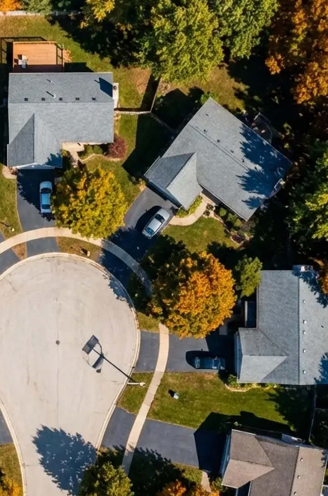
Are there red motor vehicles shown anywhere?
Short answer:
No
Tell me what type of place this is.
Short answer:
residential area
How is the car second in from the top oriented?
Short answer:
at an angle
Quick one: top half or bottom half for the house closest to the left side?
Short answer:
top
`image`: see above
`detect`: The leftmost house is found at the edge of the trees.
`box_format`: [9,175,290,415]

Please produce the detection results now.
[6,72,120,169]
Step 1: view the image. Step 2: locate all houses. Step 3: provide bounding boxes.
[233,263,328,386]
[143,97,291,222]
[218,424,328,496]
[6,72,120,169]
